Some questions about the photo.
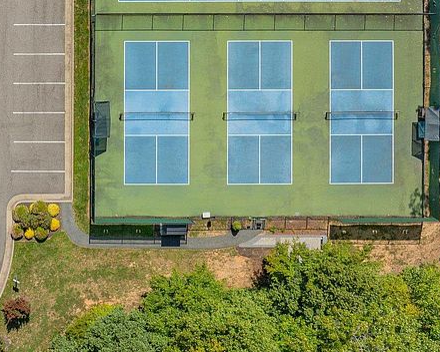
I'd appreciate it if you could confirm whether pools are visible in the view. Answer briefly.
No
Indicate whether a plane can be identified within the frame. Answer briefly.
No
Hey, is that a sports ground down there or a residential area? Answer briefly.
sports ground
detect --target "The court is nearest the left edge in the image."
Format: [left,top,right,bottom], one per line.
[94,16,208,216]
